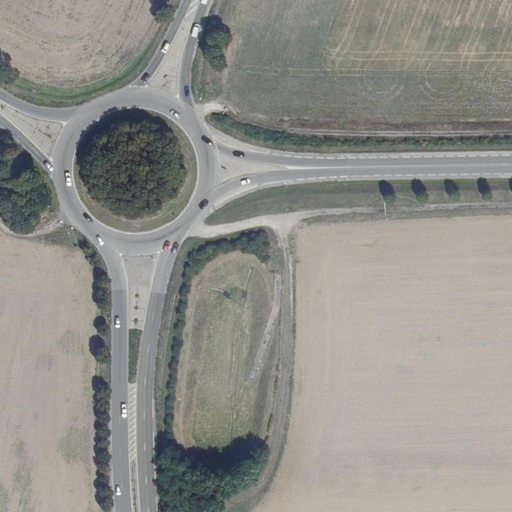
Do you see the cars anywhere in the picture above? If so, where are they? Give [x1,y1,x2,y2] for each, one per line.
[199,198,208,209]
[116,486,121,496]
[45,161,54,171]
[240,178,250,184]
[96,236,104,246]
[122,404,127,416]
[83,212,94,222]
[66,173,72,186]
[169,108,180,118]
[162,41,170,52]
[172,242,178,254]
[184,86,189,96]
[200,135,212,144]
[114,317,120,327]
[163,240,169,251]
[232,151,244,156]
[142,72,149,82]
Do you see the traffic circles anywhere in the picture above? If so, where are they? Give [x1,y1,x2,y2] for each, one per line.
[50,84,221,256]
